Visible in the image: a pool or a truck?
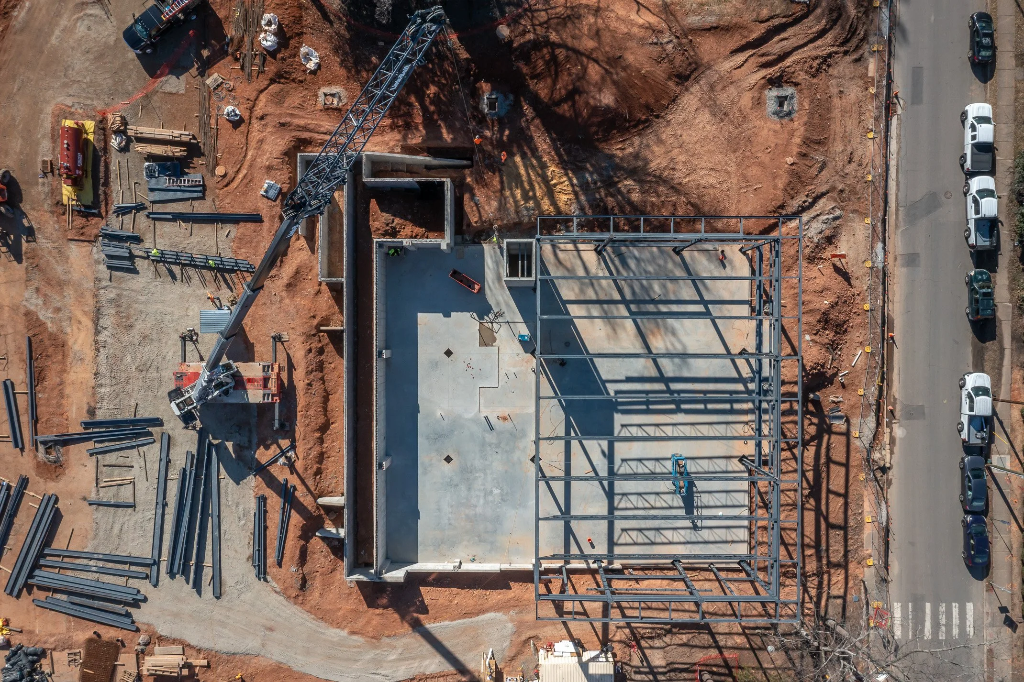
truck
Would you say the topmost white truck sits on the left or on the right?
right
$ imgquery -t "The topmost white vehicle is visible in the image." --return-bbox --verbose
[961,105,995,173]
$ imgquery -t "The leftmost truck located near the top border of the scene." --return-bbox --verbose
[124,0,216,55]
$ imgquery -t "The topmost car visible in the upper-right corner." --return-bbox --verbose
[967,11,998,64]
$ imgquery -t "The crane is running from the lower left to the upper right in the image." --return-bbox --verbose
[155,9,498,431]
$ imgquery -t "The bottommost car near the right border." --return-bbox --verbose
[959,514,990,568]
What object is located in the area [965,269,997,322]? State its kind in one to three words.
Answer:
car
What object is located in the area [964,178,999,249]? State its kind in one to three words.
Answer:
truck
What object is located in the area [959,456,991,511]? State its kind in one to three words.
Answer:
car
